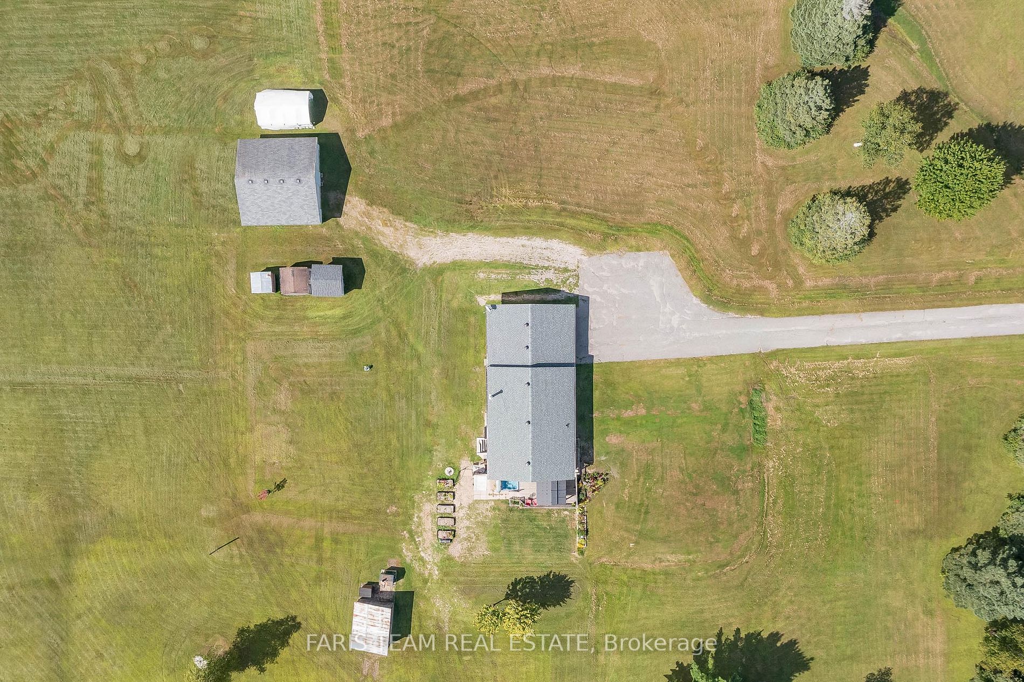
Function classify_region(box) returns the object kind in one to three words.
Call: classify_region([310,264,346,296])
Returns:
shed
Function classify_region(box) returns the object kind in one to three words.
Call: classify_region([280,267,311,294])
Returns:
shed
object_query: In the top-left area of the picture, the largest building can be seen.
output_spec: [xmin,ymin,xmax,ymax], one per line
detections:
[235,137,323,226]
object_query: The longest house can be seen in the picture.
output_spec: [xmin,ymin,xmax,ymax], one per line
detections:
[486,304,576,482]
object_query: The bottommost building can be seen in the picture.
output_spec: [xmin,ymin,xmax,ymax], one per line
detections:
[351,599,393,656]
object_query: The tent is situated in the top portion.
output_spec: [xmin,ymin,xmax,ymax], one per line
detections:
[255,89,314,130]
